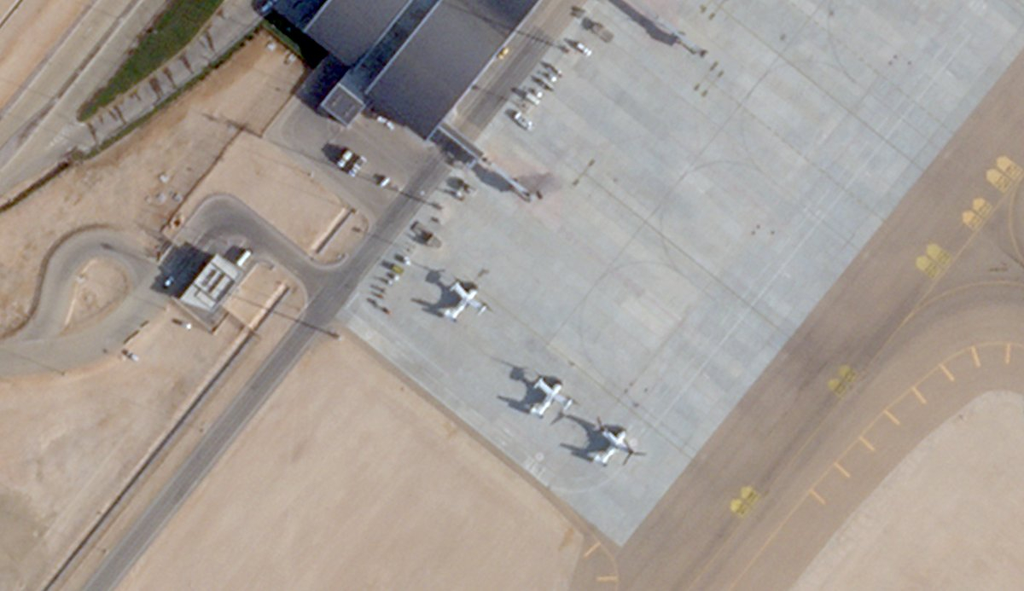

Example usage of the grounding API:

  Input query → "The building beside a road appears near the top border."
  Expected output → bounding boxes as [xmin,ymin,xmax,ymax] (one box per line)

[304,0,540,141]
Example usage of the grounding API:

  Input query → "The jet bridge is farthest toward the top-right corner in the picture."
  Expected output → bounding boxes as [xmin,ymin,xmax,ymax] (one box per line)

[632,0,710,54]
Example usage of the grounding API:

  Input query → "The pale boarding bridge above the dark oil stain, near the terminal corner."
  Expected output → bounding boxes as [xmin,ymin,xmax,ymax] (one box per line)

[477,153,545,204]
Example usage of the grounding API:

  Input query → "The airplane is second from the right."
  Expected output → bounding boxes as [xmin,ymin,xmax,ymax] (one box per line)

[528,373,578,423]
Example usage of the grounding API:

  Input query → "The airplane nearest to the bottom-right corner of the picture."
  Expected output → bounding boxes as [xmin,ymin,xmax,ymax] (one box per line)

[588,417,641,468]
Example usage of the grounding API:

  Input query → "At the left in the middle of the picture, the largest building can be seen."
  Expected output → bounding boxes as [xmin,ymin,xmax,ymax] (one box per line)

[181,253,243,311]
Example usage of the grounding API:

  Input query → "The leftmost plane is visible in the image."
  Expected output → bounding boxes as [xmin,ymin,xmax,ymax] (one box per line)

[444,274,494,324]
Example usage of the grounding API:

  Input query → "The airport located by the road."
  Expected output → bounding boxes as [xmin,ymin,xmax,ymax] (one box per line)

[335,0,1024,591]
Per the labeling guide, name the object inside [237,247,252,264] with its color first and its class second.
white vehicle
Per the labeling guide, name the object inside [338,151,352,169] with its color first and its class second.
white vehicle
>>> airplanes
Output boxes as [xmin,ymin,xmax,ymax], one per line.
[444,274,494,324]
[588,417,641,468]
[528,373,578,423]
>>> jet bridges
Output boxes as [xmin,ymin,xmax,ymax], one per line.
[477,153,545,204]
[632,0,710,54]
